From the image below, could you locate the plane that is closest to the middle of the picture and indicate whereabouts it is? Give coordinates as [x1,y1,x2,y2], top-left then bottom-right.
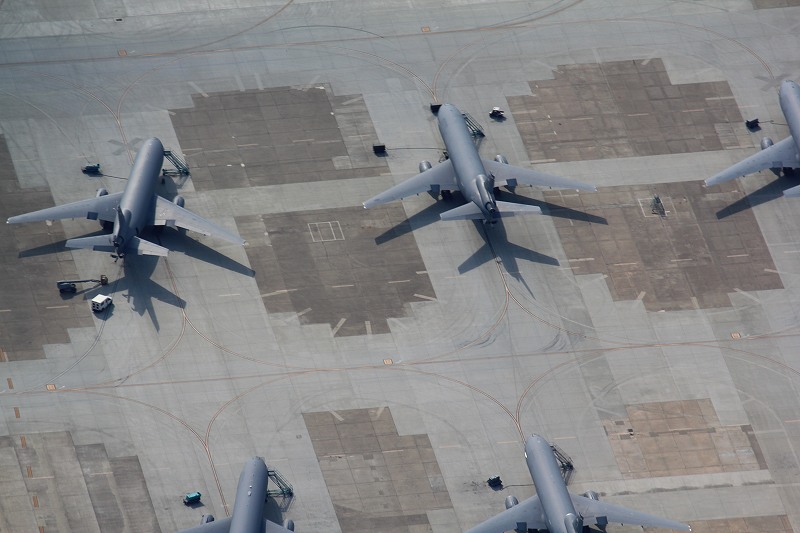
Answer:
[363,104,597,228]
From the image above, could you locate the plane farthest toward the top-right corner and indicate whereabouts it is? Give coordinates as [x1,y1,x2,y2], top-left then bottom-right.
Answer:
[705,82,800,199]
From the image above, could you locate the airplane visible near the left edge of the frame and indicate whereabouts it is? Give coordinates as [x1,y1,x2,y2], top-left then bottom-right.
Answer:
[8,138,244,262]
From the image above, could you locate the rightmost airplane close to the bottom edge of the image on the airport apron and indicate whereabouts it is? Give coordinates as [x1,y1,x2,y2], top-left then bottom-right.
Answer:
[466,435,691,533]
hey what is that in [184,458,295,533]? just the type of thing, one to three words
airplane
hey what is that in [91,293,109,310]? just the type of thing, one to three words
vehicle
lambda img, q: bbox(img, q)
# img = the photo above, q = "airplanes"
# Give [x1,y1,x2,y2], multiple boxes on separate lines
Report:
[466,435,691,533]
[8,138,244,262]
[705,82,800,199]
[363,104,597,228]
[184,458,295,533]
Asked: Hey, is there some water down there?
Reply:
No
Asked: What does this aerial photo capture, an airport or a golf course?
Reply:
airport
